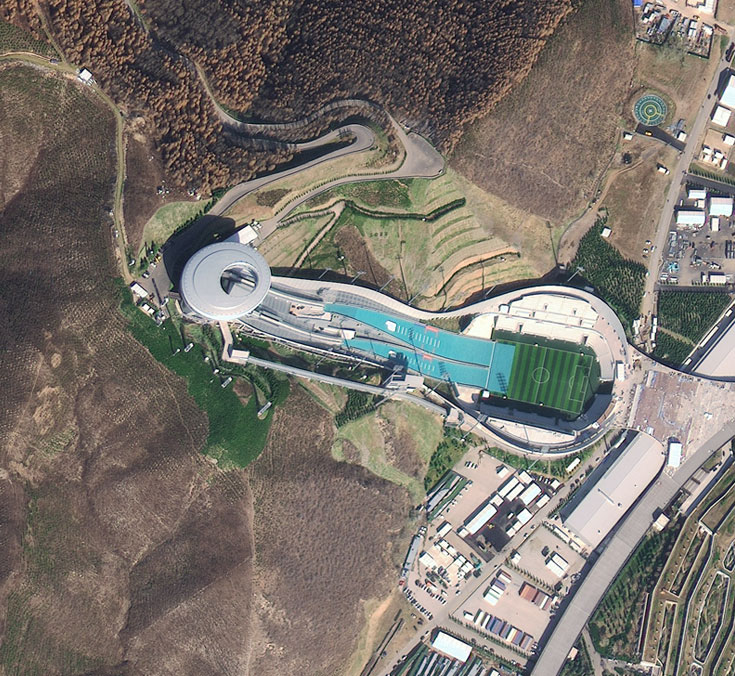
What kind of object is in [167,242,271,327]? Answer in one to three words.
building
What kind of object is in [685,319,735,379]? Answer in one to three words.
building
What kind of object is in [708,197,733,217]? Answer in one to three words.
shed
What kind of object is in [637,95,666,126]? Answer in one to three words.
helipad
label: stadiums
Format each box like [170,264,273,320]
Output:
[423,293,616,456]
